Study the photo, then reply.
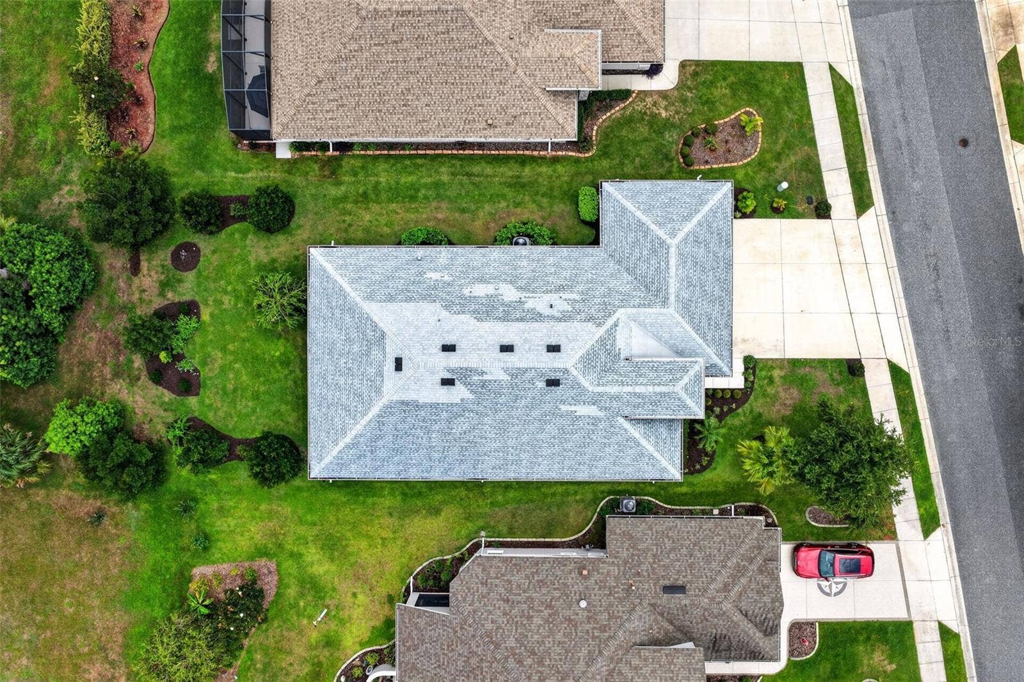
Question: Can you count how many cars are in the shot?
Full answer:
There is 1 car in the image.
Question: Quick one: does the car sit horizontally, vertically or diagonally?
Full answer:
In this picture, the car lies horizontally.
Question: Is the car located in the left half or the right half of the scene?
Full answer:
You can find the car on the right side of the picture.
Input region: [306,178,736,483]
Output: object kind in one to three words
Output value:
house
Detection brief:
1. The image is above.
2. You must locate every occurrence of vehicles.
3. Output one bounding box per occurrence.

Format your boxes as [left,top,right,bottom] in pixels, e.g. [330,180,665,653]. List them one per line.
[792,542,876,584]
